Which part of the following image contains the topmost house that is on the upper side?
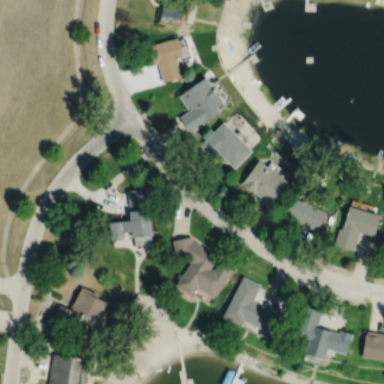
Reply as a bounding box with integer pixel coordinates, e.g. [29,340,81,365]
[160,6,184,26]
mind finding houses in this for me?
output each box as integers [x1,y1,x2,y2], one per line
[364,332,384,362]
[239,156,287,202]
[51,356,82,384]
[336,207,382,254]
[180,80,226,136]
[160,6,184,26]
[202,123,254,170]
[110,211,154,242]
[304,308,356,359]
[172,236,234,304]
[72,288,107,319]
[288,198,329,230]
[224,277,266,328]
[154,40,183,84]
